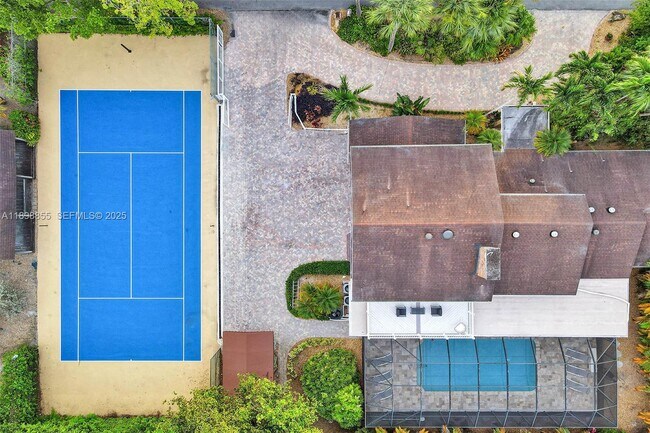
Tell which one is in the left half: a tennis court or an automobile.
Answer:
tennis court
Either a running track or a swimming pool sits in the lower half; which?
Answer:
swimming pool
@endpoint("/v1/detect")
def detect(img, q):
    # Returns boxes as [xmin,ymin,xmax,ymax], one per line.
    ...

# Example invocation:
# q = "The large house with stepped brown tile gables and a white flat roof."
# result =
[348,105,650,340]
